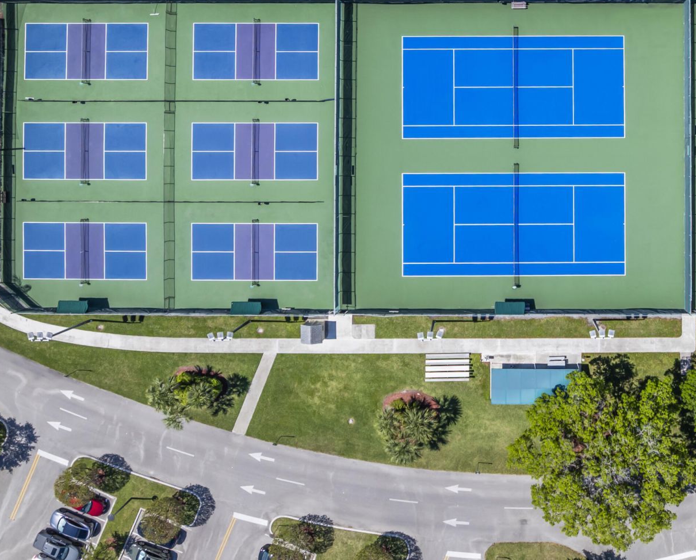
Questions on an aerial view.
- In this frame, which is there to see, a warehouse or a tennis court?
tennis court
